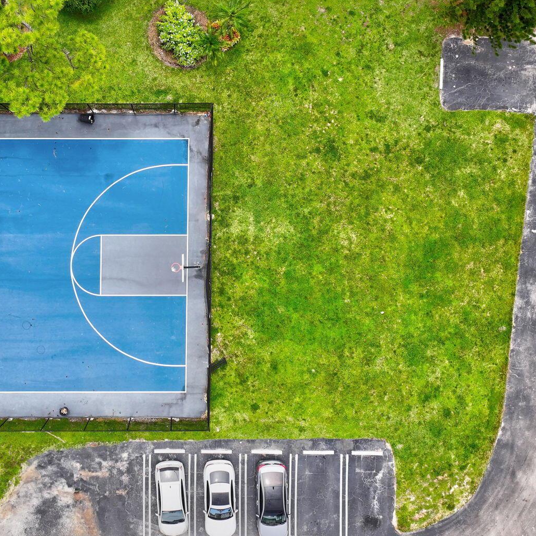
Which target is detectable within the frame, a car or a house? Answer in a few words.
car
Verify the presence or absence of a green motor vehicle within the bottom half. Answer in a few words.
No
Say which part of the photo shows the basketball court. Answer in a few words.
left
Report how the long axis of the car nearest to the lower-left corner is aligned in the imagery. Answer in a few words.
vertically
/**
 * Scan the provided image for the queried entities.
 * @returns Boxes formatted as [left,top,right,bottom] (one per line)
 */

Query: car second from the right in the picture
[202,459,240,536]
